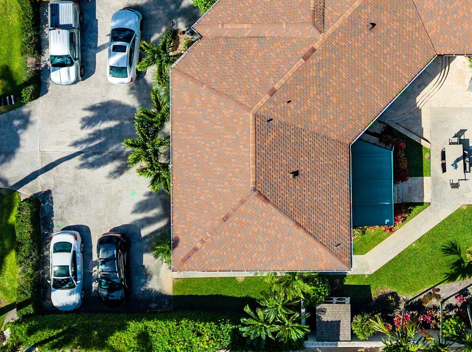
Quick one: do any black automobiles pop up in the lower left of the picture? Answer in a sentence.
Yes, the scene does show a black automobile in the lower left of the picture.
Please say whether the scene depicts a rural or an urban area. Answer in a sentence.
From above, the setting appears urban.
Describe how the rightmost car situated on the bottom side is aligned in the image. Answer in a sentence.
The rightmost car situated on the bottom side has been laid out from top to bottom relative to the frame.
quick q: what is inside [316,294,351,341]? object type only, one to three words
shed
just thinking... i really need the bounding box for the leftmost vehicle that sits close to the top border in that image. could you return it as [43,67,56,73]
[42,0,86,85]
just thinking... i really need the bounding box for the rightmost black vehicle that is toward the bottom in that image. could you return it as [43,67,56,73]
[92,230,130,306]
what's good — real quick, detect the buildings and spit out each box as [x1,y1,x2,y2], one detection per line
[168,0,472,275]
[316,294,351,341]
